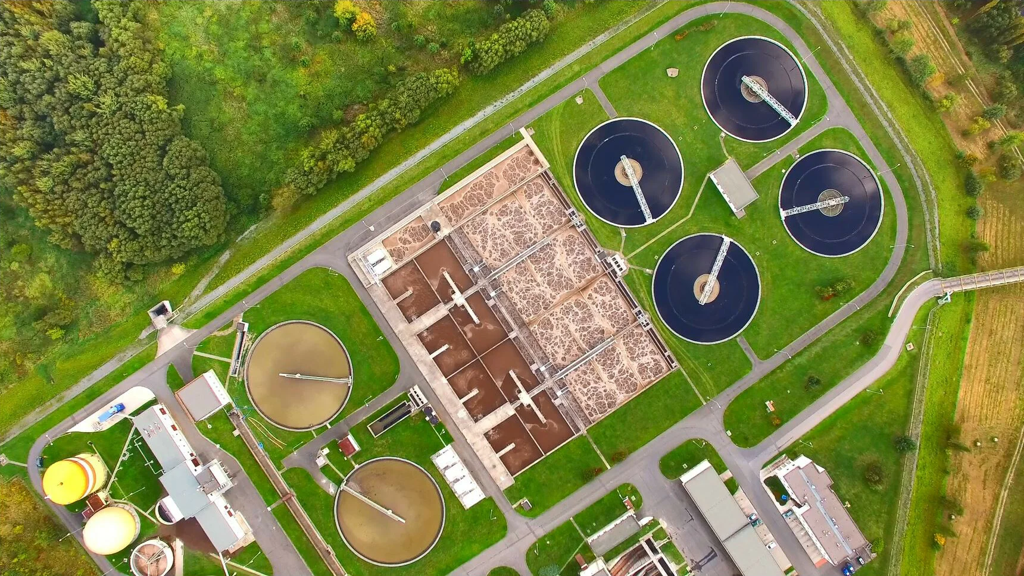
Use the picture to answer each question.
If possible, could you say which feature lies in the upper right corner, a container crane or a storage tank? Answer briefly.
storage tank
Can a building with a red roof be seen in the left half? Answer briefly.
Yes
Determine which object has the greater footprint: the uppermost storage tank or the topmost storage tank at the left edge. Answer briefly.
the uppermost storage tank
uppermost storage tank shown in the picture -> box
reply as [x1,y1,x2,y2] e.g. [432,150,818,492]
[701,34,809,142]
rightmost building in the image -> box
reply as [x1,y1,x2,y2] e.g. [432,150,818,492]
[777,454,866,566]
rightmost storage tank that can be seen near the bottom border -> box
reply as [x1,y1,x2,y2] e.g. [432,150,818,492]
[333,457,445,569]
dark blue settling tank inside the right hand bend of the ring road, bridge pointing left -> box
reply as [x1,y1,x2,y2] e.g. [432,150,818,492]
[778,149,886,256]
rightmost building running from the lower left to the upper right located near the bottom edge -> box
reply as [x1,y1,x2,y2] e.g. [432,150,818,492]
[587,512,641,557]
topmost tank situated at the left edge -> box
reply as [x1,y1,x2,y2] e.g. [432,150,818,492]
[42,451,108,506]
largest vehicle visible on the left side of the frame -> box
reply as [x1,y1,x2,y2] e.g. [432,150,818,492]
[97,403,126,422]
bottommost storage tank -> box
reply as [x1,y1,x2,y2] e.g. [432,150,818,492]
[128,540,173,576]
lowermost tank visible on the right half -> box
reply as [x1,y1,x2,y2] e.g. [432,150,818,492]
[652,233,763,344]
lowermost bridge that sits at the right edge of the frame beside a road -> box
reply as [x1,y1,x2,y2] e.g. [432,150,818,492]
[943,265,1024,295]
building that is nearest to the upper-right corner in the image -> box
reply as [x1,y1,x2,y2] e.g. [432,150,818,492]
[708,158,759,212]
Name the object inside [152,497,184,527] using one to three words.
storage tank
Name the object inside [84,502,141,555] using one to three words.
storage tank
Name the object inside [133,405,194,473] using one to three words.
building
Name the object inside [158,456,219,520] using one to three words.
building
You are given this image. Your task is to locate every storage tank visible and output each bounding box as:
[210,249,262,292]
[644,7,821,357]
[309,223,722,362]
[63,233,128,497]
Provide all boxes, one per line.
[152,497,184,527]
[84,502,141,555]
[574,116,685,227]
[333,457,445,569]
[701,34,809,142]
[652,233,763,344]
[128,540,173,576]
[778,149,886,256]
[243,322,353,431]
[42,451,108,506]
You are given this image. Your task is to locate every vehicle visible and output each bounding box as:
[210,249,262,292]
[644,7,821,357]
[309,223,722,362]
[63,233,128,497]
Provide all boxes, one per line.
[842,567,850,576]
[783,510,793,517]
[747,514,757,522]
[766,541,778,549]
[36,456,43,467]
[97,403,126,422]
[856,556,865,567]
[751,519,762,527]
[847,563,855,574]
